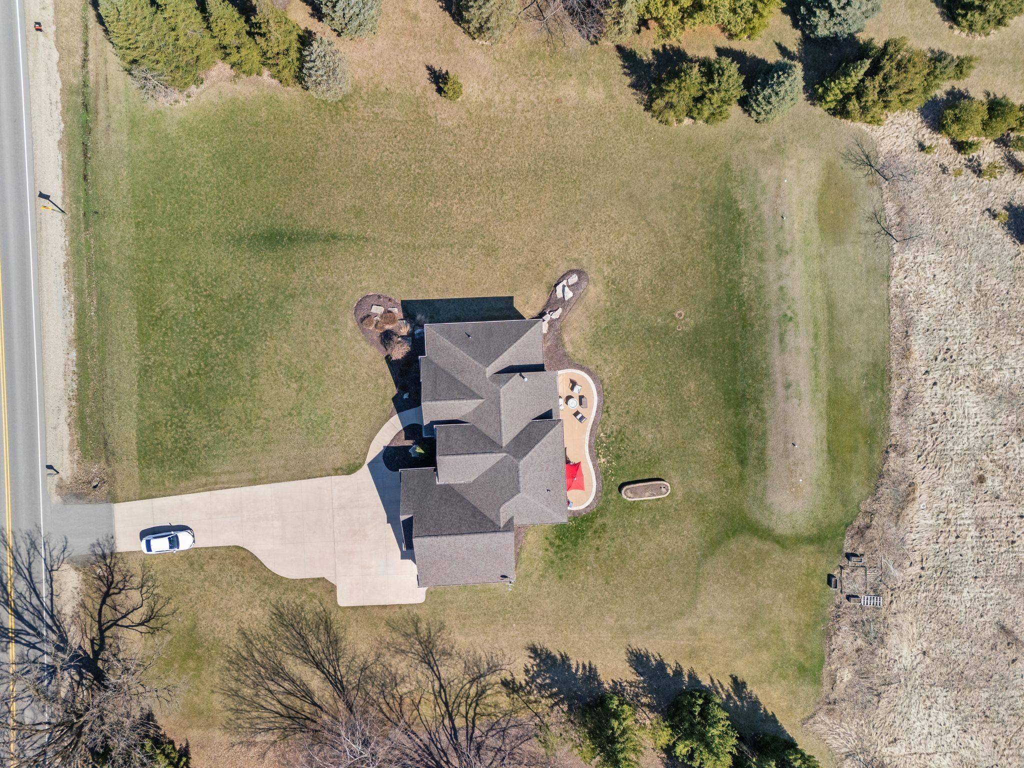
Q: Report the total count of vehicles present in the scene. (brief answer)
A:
1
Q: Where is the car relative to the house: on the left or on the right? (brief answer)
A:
to the left of it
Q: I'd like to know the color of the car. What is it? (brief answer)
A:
white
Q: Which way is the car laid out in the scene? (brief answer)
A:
from left to right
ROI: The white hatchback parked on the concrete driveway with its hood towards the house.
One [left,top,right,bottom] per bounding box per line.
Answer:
[136,528,192,553]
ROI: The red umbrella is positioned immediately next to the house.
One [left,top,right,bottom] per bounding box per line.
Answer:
[567,461,586,491]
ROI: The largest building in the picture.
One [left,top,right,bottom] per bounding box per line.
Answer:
[399,318,570,589]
